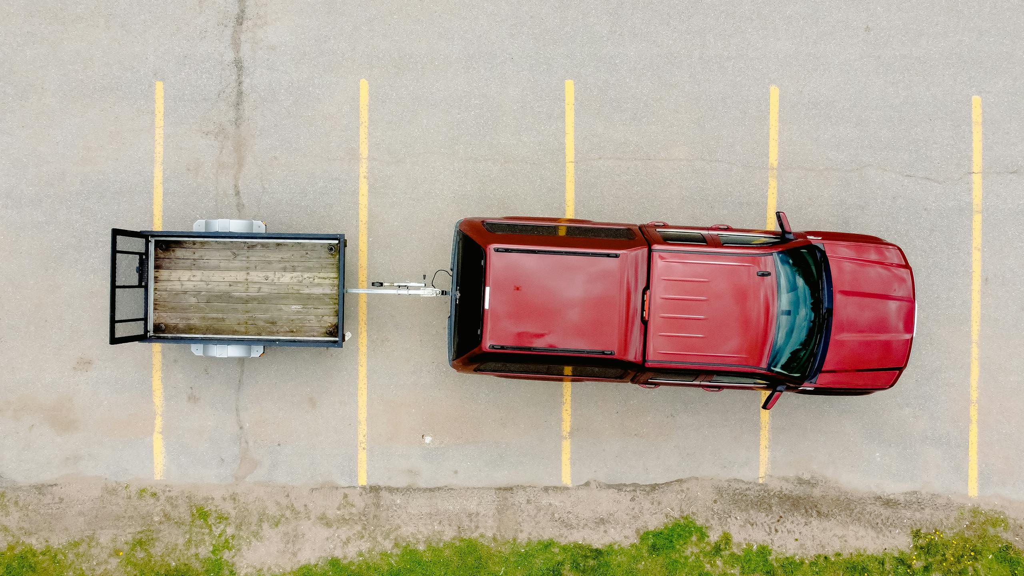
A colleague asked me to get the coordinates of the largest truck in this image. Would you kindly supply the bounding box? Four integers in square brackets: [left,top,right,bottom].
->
[440,210,916,412]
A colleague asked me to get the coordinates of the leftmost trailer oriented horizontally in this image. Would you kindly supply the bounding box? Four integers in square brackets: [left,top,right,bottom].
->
[107,220,452,360]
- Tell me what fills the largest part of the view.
paved ground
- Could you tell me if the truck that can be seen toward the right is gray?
No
